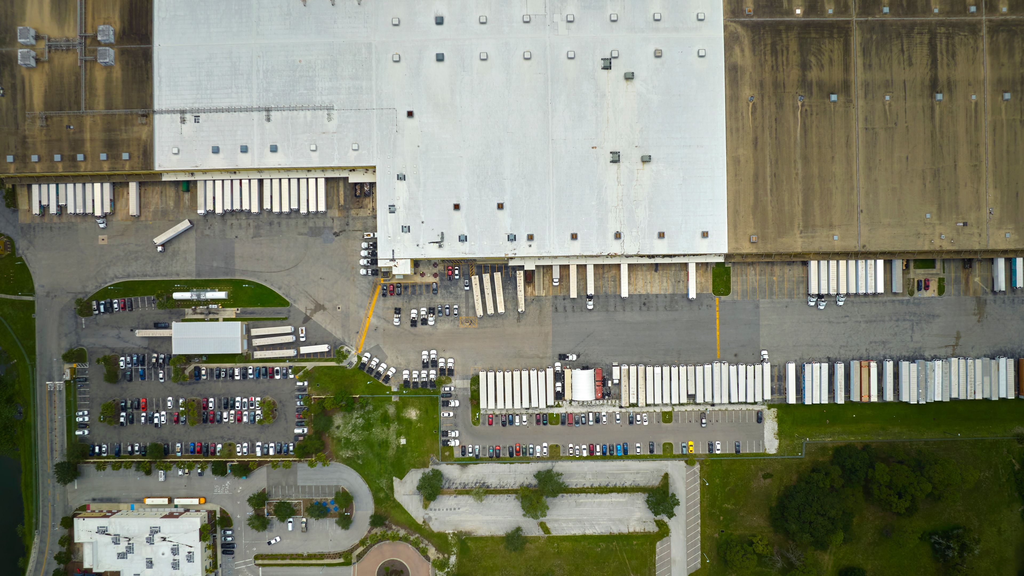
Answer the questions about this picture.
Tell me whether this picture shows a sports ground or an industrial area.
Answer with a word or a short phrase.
industrial area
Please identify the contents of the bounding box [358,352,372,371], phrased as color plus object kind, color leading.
white vehicle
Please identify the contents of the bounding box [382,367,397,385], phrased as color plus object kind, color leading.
white vehicle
